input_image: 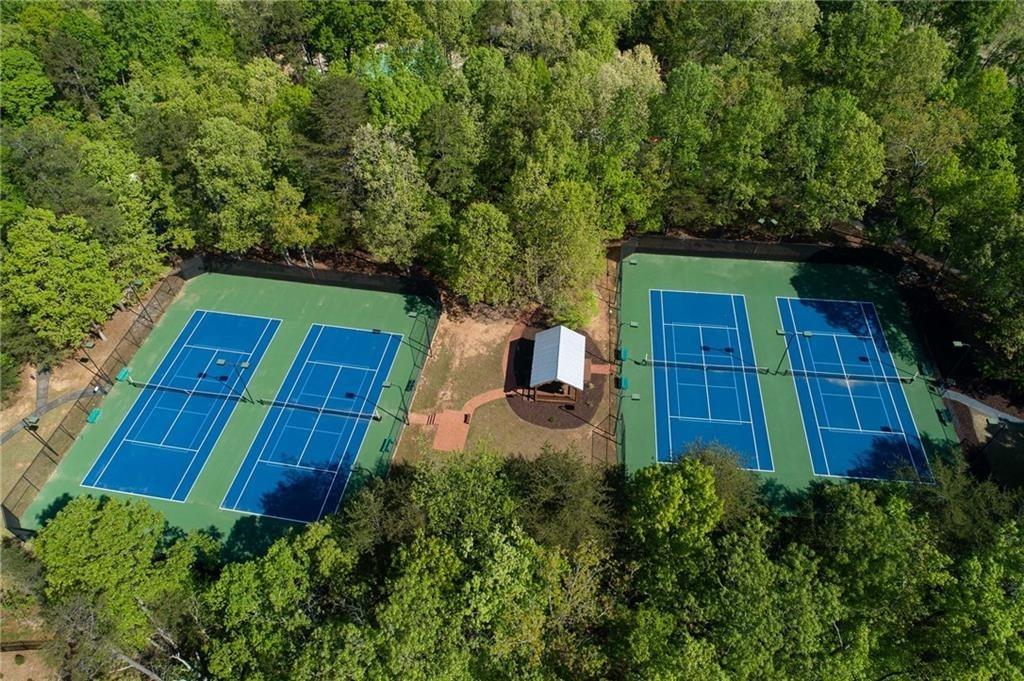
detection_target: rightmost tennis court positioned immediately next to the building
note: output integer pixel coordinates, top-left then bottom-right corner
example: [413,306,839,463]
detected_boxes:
[620,255,798,530]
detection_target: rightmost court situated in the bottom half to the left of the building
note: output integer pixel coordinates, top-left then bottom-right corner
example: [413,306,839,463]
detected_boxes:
[188,285,443,594]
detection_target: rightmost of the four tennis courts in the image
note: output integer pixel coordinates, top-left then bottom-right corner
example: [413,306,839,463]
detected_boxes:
[753,260,984,533]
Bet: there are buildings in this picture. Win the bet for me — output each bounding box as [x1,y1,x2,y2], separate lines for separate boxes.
[530,325,585,405]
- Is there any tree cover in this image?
Yes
